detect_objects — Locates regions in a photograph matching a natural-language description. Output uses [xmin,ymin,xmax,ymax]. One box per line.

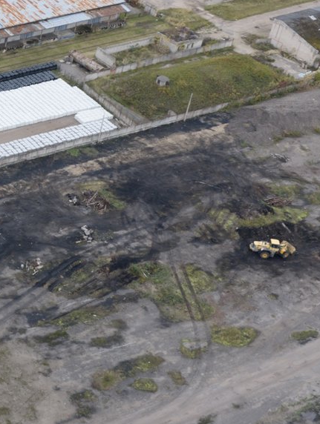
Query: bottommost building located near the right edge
[260,9,320,70]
